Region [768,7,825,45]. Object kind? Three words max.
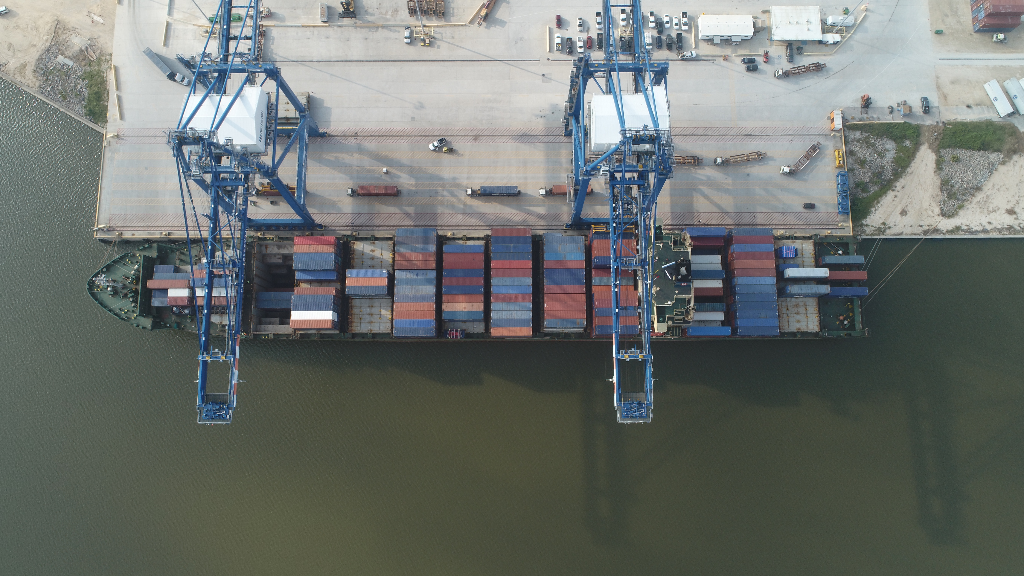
building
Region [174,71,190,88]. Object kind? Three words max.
vehicle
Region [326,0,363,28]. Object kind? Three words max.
work vehicle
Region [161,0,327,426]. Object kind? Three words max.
container crane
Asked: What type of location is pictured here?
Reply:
port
